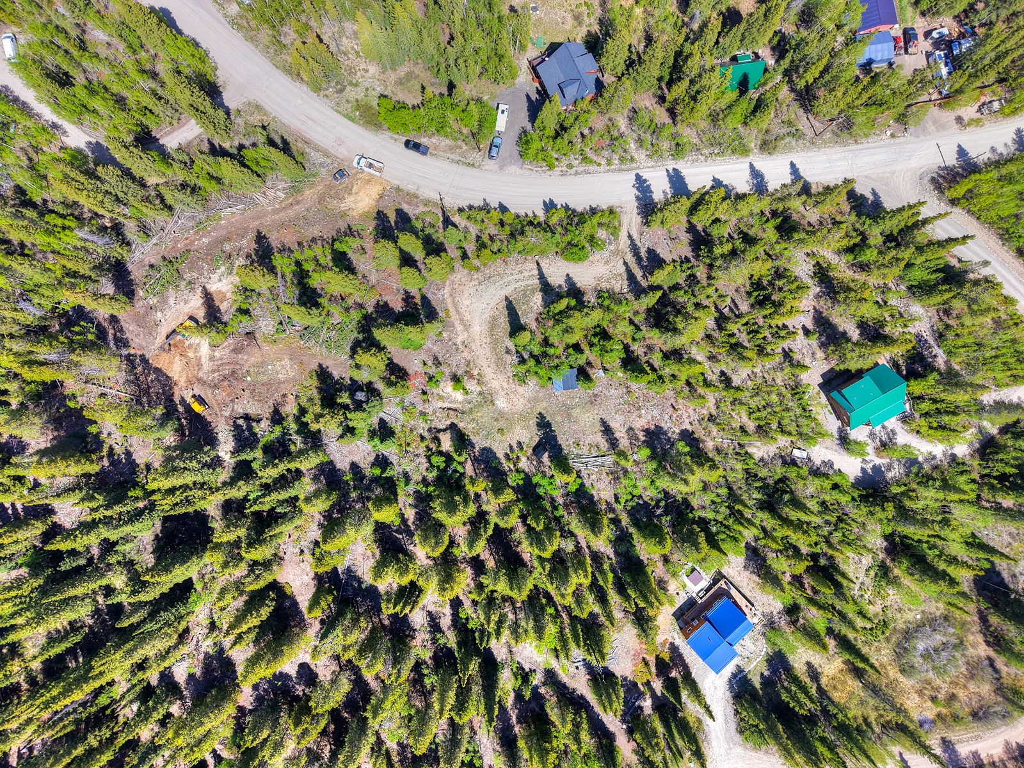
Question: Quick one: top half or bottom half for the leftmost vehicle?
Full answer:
The top half of the photo is where the leftmost vehicle is.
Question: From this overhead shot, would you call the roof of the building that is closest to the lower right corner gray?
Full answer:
No, the roof of the building that is closest to the lower right corner is blue.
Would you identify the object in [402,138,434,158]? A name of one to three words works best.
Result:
vehicle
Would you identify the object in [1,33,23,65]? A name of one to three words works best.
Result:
vehicle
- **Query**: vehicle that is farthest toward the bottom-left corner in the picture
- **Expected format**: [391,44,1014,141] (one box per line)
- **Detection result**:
[184,390,208,414]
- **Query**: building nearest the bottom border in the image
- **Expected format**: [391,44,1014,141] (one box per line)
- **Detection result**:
[678,577,766,675]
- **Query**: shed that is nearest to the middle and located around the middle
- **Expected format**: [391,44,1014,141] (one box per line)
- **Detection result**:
[552,368,578,392]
